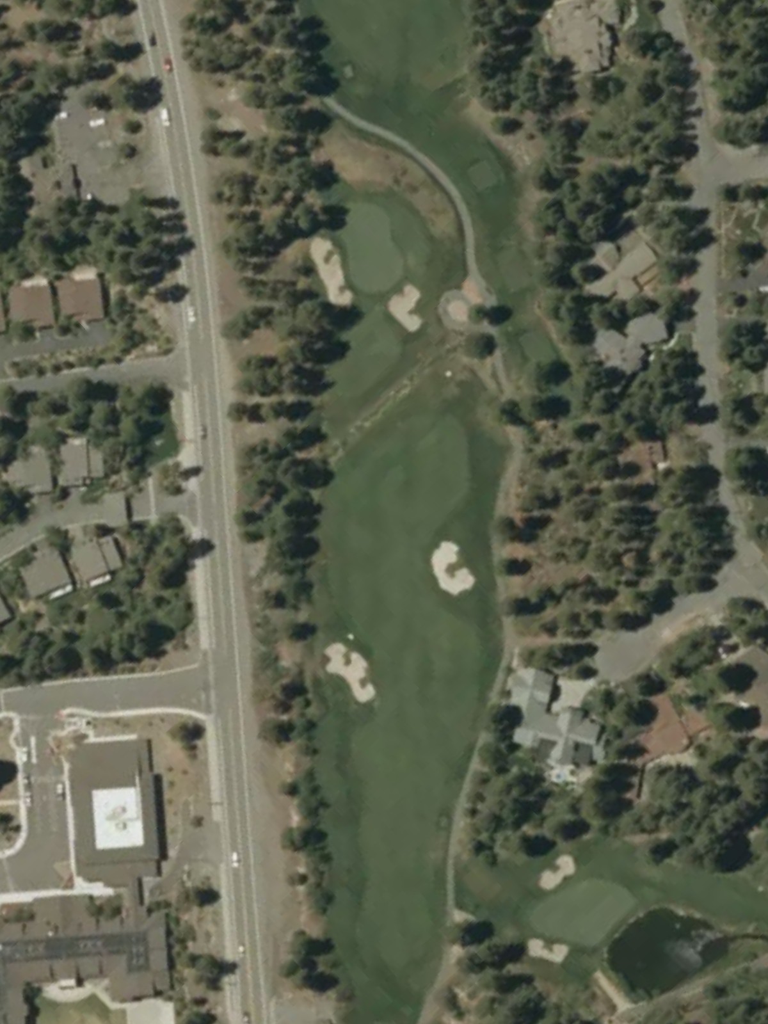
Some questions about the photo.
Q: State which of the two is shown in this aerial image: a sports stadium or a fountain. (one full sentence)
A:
The image shows a fountain.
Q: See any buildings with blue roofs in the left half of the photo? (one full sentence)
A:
No, the scene shows no building with a blue roof in the left half of the photo.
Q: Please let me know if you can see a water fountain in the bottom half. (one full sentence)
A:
Yes, looking in the bottom half, one can make out a water fountain.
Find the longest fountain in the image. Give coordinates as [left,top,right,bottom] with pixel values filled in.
[678,927,722,970]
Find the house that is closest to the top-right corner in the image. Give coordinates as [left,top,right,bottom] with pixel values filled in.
[547,0,619,74]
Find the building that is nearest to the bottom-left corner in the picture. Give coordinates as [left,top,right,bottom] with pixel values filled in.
[0,895,174,1024]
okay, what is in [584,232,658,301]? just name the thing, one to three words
house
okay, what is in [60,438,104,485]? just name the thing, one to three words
house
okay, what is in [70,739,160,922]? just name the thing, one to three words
building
